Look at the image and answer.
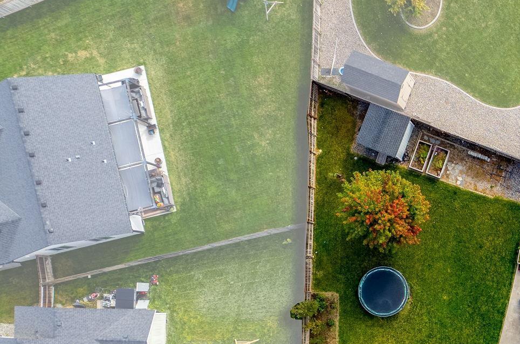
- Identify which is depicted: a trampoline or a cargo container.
trampoline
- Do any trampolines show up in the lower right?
Yes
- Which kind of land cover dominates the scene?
grass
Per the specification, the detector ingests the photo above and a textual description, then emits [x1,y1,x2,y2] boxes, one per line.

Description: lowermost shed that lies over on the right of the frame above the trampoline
[357,104,415,163]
